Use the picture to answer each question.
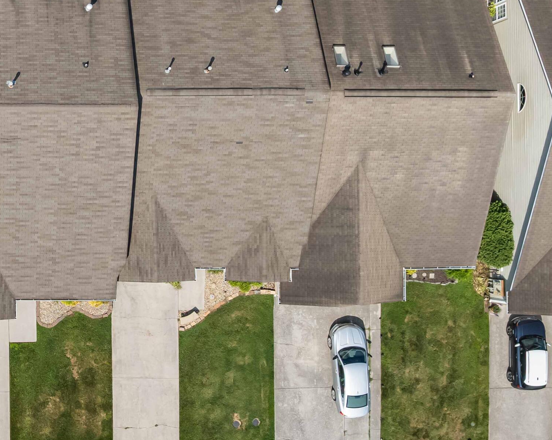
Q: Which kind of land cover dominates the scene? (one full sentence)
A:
The largest share of the image is taken up by buildings.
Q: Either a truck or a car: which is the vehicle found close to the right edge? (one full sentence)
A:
The vehicle found close to the right edge appears to be a car.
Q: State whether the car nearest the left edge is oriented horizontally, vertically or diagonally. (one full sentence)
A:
I'd say the car nearest the left edge is aligned vertically in the picture.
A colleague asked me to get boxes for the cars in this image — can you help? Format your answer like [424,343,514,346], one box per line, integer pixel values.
[500,319,551,395]
[331,325,380,420]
